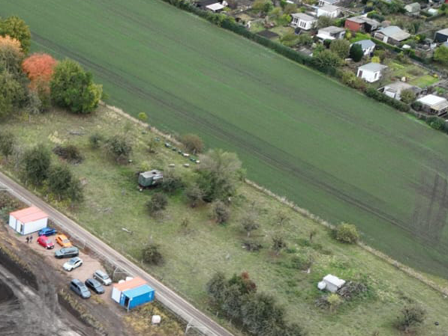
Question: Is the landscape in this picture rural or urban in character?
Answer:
rural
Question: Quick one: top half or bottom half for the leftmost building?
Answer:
bottom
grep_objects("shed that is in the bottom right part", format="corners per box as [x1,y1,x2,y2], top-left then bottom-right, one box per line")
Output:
[320,269,349,293]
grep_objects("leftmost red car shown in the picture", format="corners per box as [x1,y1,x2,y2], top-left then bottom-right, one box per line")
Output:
[36,234,54,249]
